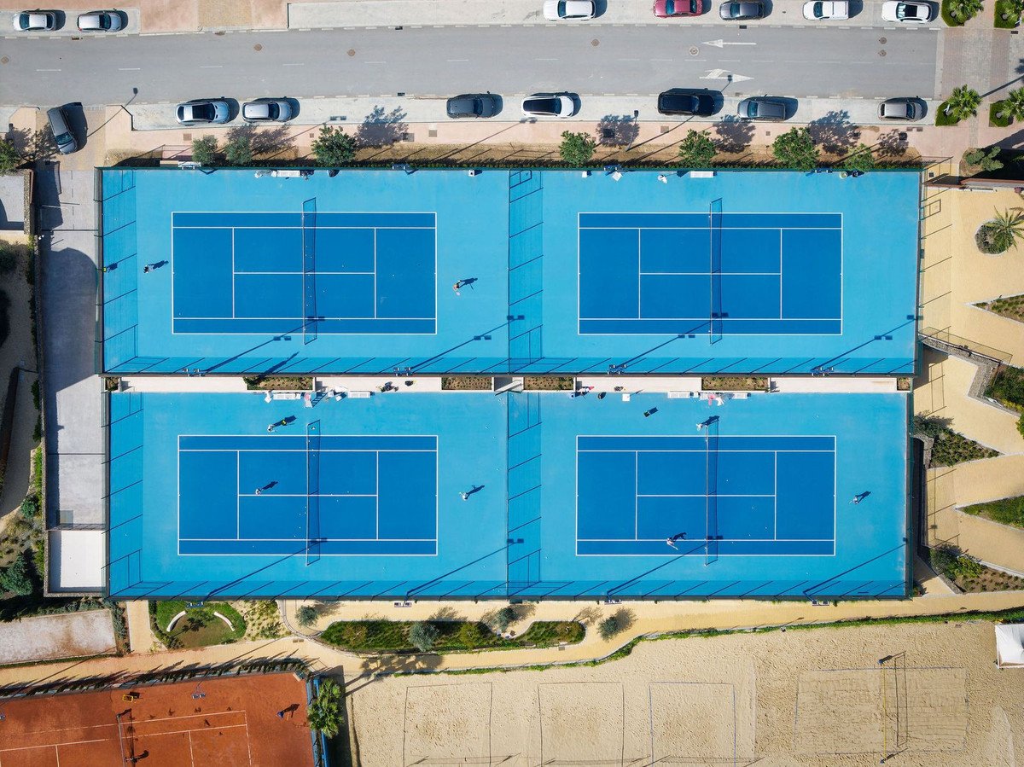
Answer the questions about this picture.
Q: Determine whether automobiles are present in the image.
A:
Yes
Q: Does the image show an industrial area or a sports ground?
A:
sports ground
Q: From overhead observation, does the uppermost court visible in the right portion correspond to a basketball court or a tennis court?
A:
tennis court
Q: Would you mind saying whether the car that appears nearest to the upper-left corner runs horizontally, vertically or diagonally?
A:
horizontally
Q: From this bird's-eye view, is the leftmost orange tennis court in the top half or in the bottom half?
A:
bottom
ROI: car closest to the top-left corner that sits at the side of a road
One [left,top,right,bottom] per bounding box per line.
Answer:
[11,9,53,31]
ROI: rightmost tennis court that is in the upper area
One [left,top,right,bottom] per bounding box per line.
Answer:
[510,169,919,374]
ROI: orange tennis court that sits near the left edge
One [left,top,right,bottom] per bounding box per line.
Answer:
[0,672,312,767]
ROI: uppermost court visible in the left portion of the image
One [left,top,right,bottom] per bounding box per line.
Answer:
[102,169,509,374]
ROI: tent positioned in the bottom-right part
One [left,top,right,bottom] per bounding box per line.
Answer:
[997,624,1024,672]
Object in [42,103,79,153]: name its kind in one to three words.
van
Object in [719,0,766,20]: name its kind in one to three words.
car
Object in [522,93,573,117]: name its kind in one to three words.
car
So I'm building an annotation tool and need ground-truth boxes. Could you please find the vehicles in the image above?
[738,96,788,119]
[522,93,573,117]
[659,89,714,115]
[243,98,288,121]
[719,0,766,20]
[11,9,53,31]
[881,97,922,120]
[654,0,702,17]
[545,0,595,19]
[447,92,494,117]
[42,103,79,153]
[804,0,851,19]
[176,100,228,123]
[75,8,120,31]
